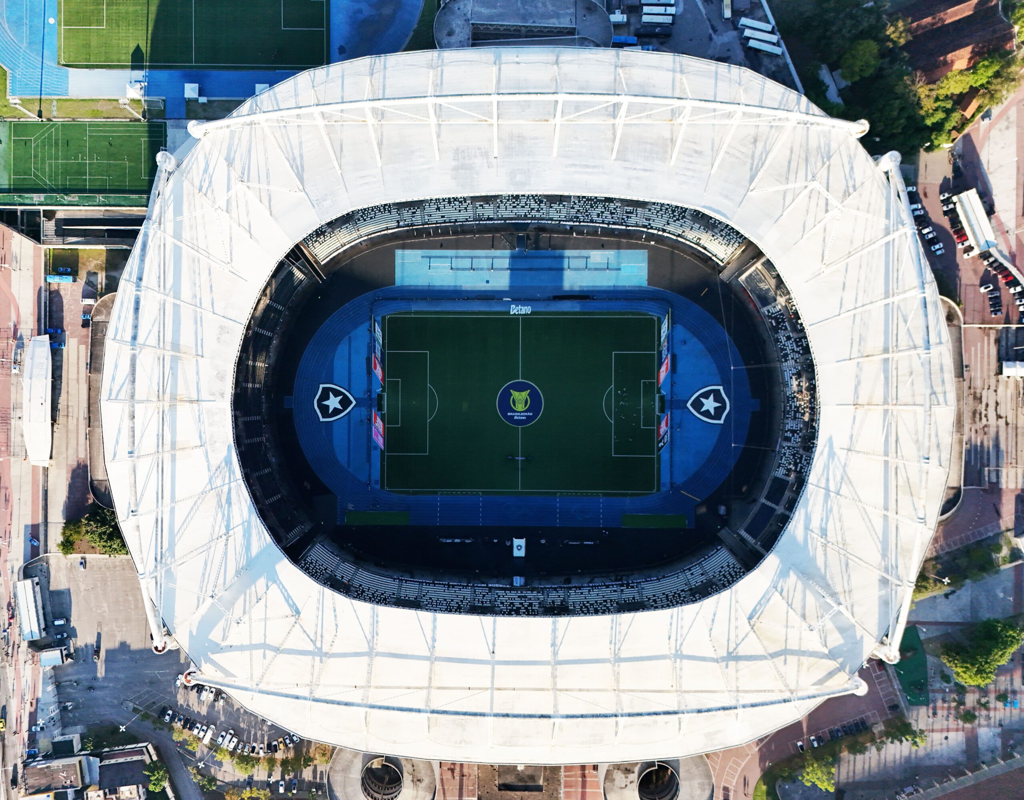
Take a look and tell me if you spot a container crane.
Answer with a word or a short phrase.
No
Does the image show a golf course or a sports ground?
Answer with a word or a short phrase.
sports ground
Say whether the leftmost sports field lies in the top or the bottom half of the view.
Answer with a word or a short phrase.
top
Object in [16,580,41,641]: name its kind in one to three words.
building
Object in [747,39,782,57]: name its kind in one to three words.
vehicle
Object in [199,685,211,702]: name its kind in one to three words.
vehicle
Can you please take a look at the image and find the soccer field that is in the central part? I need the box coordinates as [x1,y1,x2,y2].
[380,311,661,497]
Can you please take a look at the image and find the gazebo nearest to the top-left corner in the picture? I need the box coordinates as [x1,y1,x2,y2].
[126,84,144,99]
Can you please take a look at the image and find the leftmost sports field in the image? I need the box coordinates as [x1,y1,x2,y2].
[9,121,167,193]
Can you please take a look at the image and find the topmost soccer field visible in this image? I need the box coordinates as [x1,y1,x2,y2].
[58,0,330,69]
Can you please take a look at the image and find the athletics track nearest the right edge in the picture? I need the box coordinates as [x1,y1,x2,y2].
[285,285,759,528]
